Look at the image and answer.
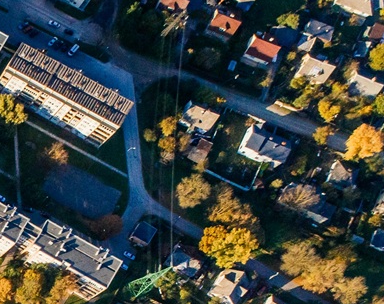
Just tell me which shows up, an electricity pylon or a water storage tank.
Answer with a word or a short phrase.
electricity pylon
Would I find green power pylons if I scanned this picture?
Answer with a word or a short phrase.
Yes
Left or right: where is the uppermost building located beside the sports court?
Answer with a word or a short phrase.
left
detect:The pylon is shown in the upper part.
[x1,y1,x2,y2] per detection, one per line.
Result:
[165,3,198,35]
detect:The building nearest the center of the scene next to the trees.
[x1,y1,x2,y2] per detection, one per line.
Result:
[190,130,214,165]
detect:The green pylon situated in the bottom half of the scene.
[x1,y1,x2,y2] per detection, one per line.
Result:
[129,269,172,297]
